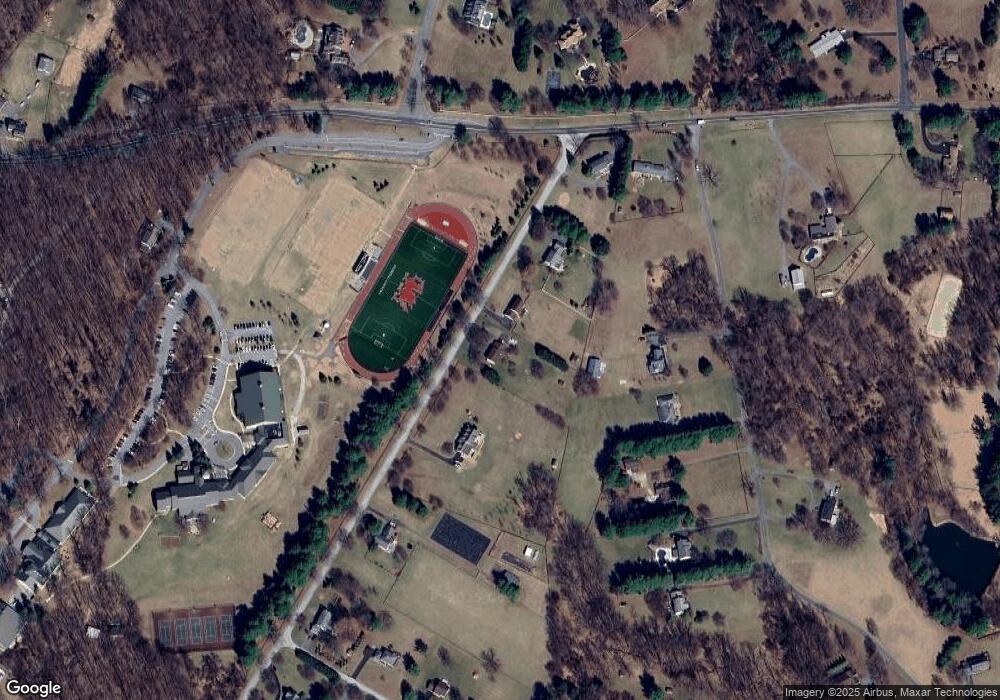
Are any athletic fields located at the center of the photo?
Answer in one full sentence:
Yes, an athletic field can be seen at the center of the photo.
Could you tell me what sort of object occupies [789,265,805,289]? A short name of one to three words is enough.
barn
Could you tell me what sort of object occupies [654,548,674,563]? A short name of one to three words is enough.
swimming pool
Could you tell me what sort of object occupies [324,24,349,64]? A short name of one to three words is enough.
house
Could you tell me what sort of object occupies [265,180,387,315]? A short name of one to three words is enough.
sports field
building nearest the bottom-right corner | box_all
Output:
[960,658,991,675]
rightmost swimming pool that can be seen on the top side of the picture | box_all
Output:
[803,245,821,263]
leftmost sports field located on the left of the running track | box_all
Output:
[195,161,305,285]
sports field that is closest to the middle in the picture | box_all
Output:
[349,223,467,373]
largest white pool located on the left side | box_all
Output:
[290,21,314,48]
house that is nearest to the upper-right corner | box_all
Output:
[934,48,961,62]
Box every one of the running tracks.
[340,194,477,382]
